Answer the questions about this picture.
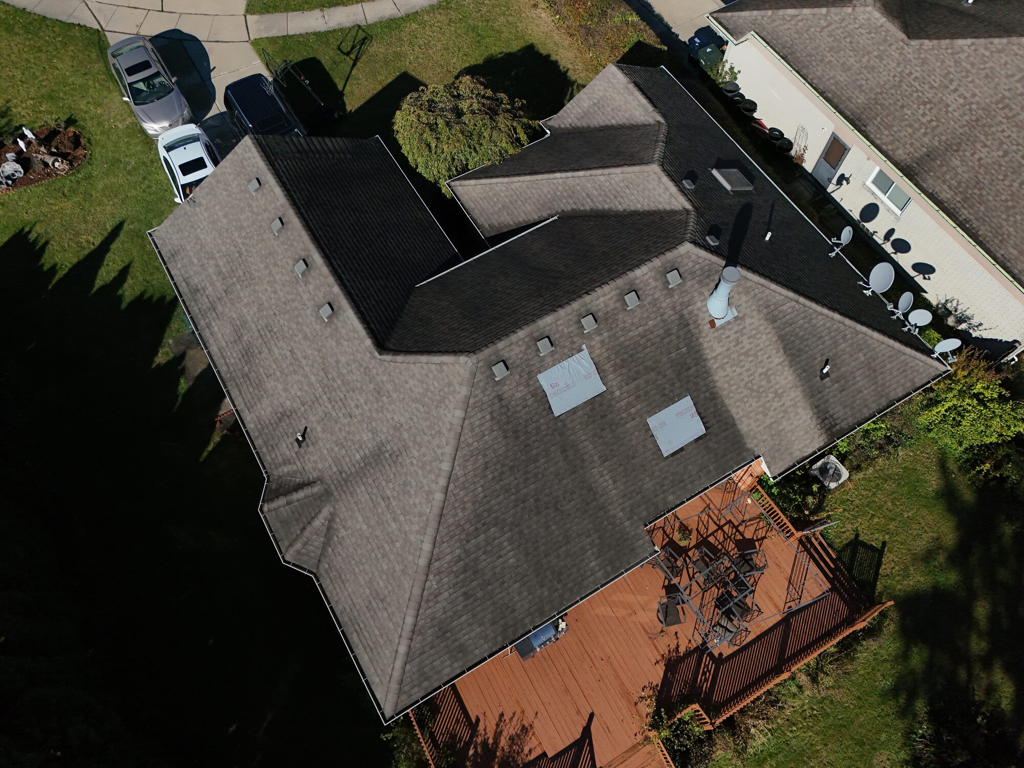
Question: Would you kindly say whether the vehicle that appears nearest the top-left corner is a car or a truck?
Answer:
car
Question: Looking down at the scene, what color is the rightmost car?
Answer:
black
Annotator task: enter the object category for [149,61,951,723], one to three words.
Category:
house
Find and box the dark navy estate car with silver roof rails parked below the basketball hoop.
[223,65,312,135]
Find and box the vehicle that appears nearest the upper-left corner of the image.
[103,32,191,136]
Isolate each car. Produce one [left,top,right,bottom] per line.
[154,119,223,202]
[103,32,191,136]
[223,65,312,135]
